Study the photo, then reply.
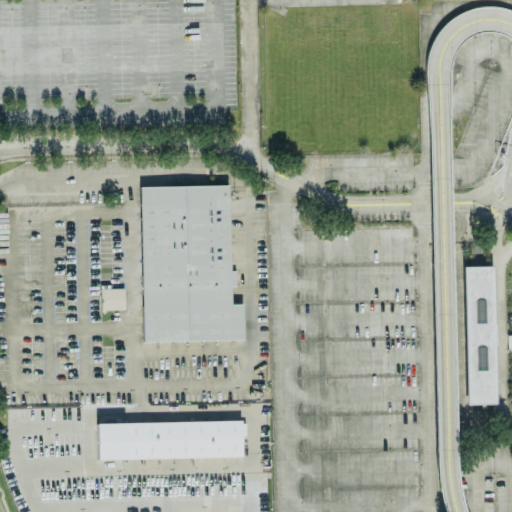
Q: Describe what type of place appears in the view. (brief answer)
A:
parking lot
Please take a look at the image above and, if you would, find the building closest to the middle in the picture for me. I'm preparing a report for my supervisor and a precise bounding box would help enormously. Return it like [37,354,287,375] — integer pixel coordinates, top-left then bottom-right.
[140,186,246,346]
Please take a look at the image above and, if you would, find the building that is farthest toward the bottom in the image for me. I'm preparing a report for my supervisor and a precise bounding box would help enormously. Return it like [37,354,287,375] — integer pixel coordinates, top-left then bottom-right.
[98,421,247,460]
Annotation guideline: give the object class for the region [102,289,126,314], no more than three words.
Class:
shed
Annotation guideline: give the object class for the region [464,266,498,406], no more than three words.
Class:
building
